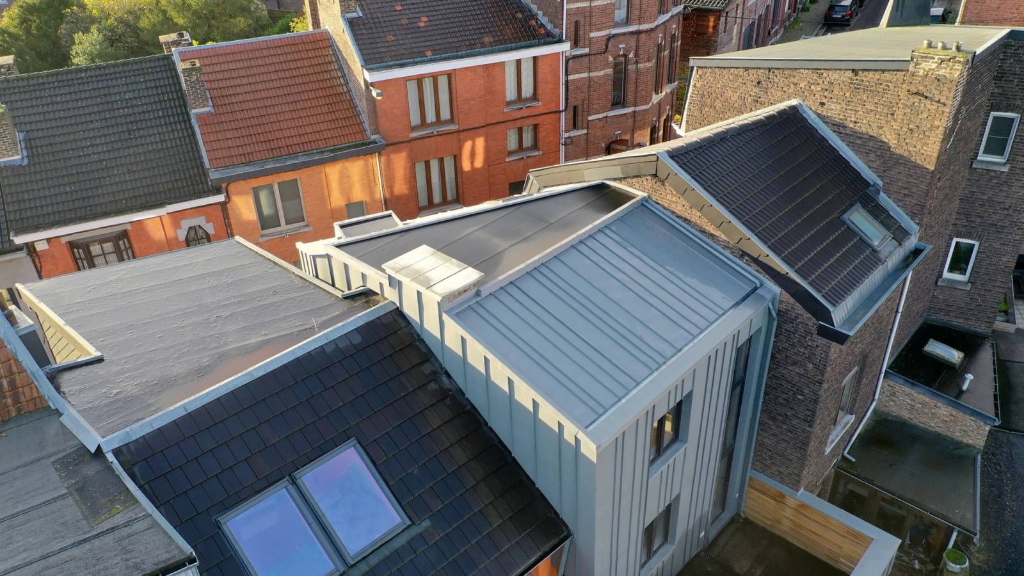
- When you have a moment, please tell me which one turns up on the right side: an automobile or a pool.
automobile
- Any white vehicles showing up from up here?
No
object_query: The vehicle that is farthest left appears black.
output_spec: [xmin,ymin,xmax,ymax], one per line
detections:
[814,3,863,34]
